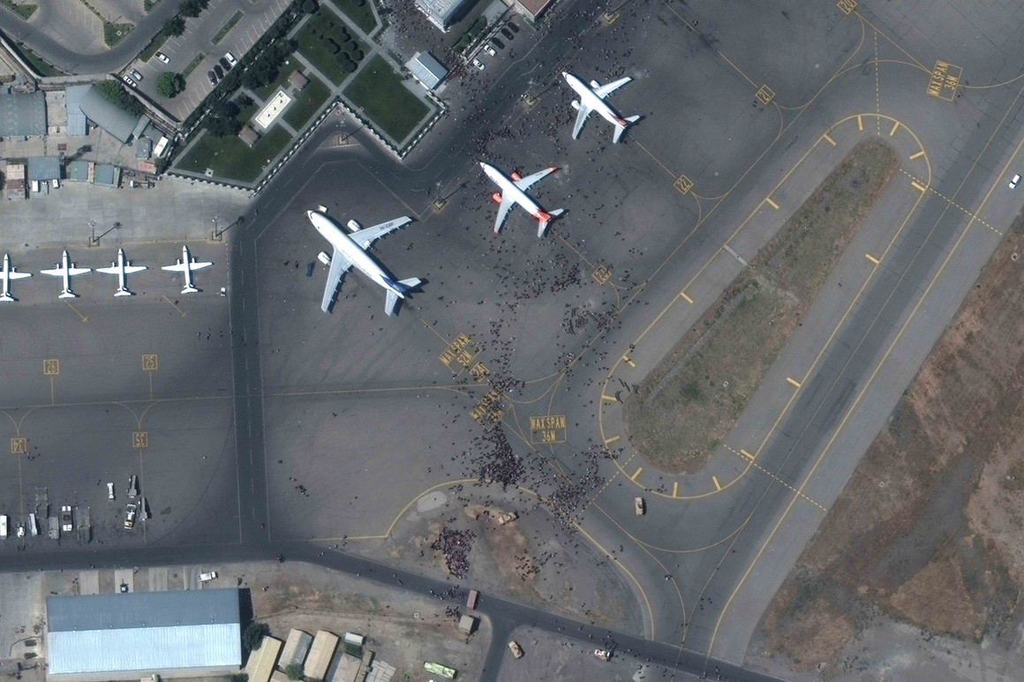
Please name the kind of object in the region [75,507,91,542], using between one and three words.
work vehicle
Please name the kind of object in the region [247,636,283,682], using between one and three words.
shed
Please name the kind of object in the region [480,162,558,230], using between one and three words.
airplane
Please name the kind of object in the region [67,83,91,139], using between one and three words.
building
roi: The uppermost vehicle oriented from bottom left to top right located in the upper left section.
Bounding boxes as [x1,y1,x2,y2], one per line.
[152,135,168,156]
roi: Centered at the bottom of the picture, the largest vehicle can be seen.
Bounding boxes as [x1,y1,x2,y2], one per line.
[425,659,455,677]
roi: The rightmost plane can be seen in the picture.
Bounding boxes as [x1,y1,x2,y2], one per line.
[565,72,638,138]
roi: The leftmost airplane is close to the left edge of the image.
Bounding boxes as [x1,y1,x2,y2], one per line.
[0,254,32,299]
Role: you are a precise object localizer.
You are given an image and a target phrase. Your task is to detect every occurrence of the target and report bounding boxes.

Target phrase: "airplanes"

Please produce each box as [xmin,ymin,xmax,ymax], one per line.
[307,210,415,309]
[162,245,212,290]
[480,162,558,230]
[41,250,91,295]
[565,72,638,138]
[0,254,32,299]
[96,248,146,294]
